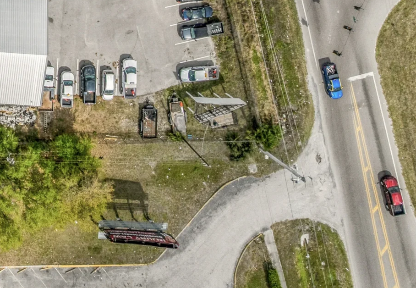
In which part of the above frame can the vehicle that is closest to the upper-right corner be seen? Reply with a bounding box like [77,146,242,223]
[321,59,344,98]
